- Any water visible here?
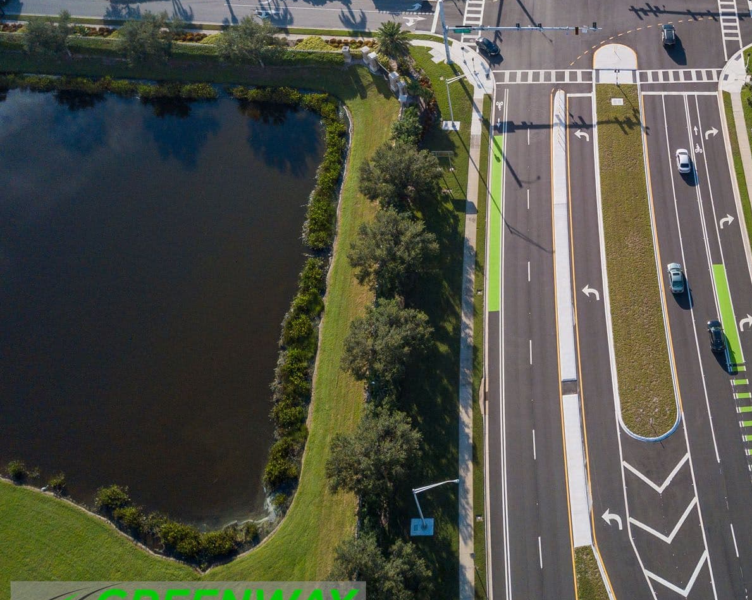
Yes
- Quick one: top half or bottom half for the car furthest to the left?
top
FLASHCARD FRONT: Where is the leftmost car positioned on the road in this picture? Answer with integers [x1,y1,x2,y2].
[473,33,499,57]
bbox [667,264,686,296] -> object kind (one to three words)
car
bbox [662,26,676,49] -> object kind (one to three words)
car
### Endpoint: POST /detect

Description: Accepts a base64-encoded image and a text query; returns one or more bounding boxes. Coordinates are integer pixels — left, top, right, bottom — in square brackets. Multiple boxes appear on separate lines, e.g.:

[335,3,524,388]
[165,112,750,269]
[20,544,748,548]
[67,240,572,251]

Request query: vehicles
[676,149,693,175]
[707,323,727,358]
[473,33,499,57]
[667,264,686,296]
[662,26,676,49]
